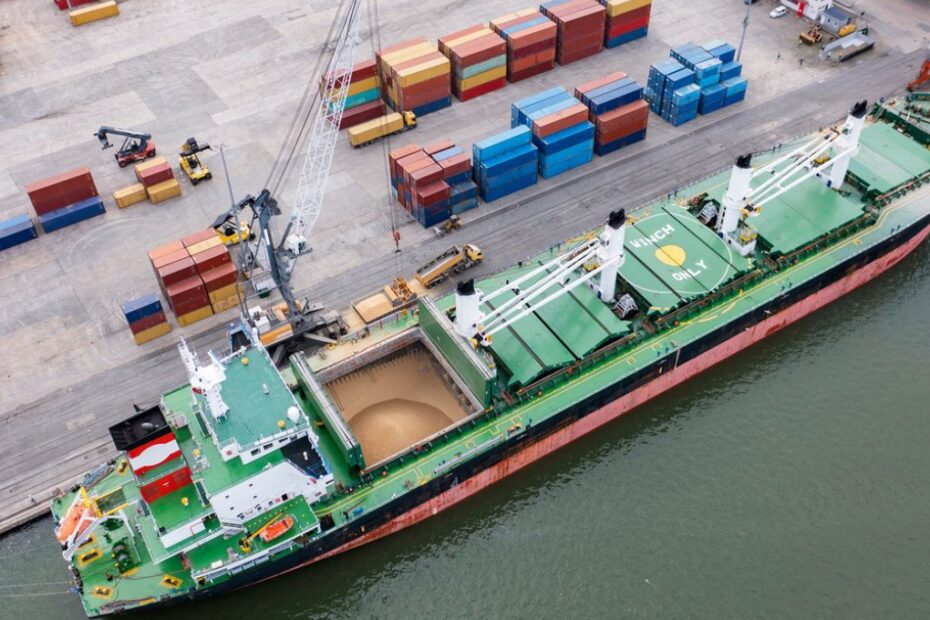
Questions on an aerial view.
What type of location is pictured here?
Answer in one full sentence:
This image shows a port.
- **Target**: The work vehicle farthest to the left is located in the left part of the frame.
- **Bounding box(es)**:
[91,129,156,167]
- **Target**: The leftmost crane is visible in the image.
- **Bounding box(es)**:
[234,0,403,369]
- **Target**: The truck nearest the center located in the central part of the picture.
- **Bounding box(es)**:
[414,248,484,291]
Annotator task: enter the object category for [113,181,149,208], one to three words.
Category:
shipping container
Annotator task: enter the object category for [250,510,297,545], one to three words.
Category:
boat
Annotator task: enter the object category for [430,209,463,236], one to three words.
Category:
work vehicle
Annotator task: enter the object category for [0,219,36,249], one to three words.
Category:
shipping container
